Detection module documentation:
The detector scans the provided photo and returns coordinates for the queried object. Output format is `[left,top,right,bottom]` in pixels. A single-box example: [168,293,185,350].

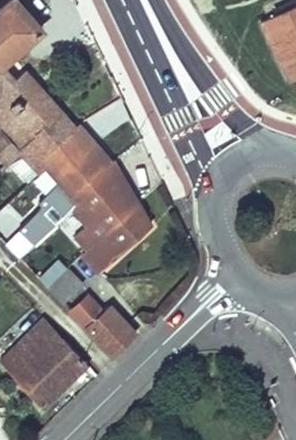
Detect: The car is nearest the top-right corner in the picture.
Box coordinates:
[162,70,178,91]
